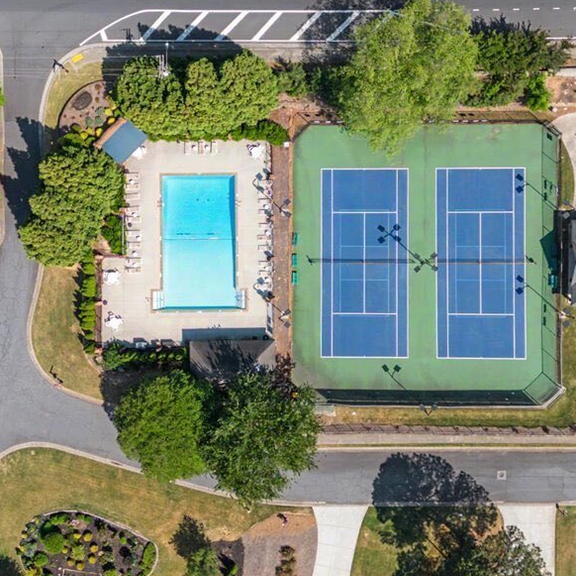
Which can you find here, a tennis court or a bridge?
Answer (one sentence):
The image shows a tennis court.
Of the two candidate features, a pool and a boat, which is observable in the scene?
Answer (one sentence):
I can see a pool in this picture.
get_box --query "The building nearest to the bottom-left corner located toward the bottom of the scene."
[189,340,276,391]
